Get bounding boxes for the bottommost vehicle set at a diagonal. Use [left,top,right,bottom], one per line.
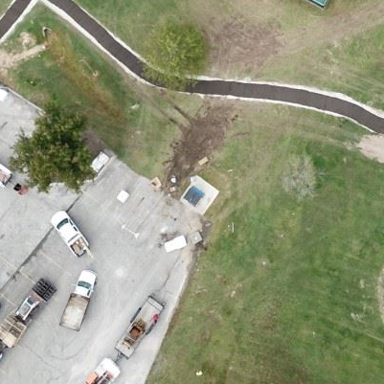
[85,352,122,384]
